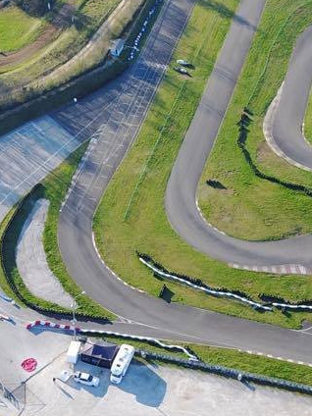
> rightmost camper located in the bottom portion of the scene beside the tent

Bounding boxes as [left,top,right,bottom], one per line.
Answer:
[107,346,136,394]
